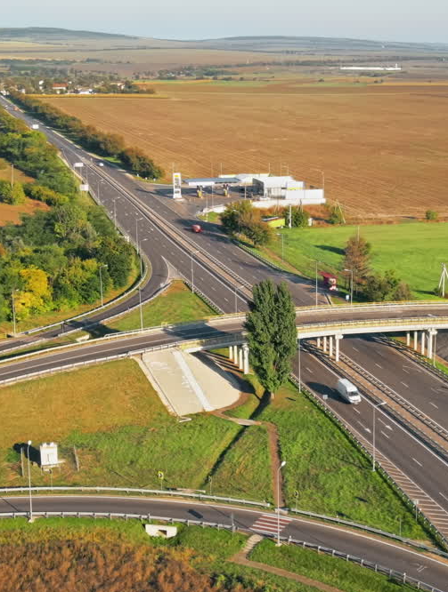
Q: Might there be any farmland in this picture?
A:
Yes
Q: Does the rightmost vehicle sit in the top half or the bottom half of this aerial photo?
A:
bottom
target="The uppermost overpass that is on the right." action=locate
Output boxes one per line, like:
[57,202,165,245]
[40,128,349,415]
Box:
[110,300,448,375]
